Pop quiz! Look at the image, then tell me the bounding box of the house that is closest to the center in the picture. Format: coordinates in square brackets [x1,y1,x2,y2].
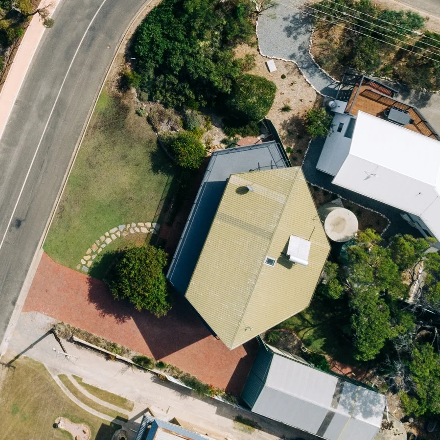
[159,136,331,350]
